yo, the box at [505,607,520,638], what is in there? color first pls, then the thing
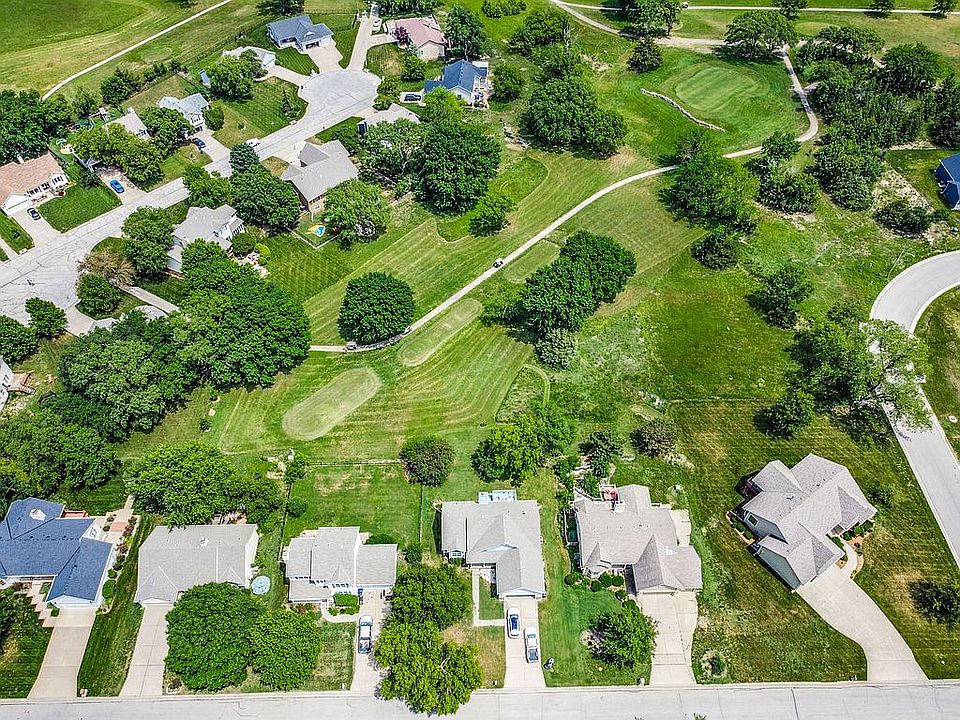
white car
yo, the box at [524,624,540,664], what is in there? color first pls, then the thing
white vehicle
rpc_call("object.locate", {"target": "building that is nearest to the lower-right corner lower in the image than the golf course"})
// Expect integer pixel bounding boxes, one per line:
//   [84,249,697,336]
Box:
[736,451,878,587]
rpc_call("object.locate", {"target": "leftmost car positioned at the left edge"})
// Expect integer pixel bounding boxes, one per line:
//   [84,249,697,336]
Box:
[24,206,41,219]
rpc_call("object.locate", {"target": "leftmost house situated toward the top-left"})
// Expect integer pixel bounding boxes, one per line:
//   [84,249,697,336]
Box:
[0,150,72,215]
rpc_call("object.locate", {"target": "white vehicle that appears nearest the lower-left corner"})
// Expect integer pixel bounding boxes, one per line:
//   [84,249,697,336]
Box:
[356,614,372,653]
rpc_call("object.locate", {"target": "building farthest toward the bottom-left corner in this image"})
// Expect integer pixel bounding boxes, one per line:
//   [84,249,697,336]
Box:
[0,497,118,605]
